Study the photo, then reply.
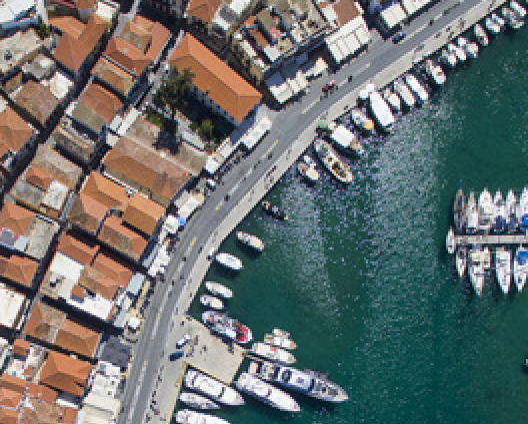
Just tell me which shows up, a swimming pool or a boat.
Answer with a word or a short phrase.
boat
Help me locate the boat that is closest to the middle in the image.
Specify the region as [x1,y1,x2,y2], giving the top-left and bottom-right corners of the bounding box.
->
[263,201,288,219]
